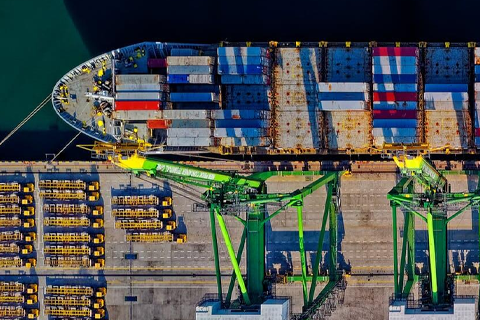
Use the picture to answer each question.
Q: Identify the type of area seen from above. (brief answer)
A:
port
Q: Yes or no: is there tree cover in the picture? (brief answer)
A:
No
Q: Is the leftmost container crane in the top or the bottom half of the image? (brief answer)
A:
bottom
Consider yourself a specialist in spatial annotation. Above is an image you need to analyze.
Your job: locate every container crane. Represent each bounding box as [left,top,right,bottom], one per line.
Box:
[367,145,480,320]
[89,145,346,320]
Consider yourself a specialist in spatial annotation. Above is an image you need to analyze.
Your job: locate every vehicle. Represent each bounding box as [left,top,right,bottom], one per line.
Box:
[44,232,108,243]
[39,180,103,190]
[0,243,37,254]
[112,207,176,219]
[44,256,108,267]
[0,306,43,317]
[126,232,190,243]
[0,216,38,228]
[0,205,38,216]
[112,195,175,207]
[0,195,36,205]
[38,190,102,201]
[116,219,180,231]
[0,281,41,293]
[43,204,107,214]
[44,217,108,228]
[0,231,39,243]
[43,245,107,256]
[43,296,107,308]
[46,285,110,296]
[0,182,38,192]
[44,306,108,318]
[0,292,41,303]
[0,257,38,267]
